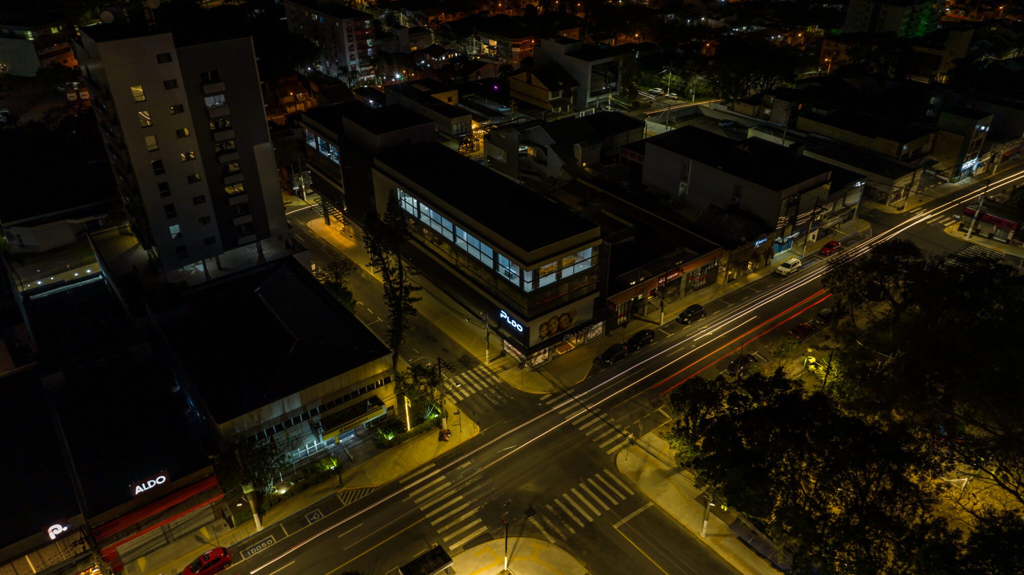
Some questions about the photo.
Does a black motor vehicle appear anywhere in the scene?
Yes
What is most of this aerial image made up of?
buildings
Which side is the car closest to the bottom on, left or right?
left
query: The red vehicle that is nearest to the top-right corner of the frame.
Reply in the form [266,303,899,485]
[821,238,845,255]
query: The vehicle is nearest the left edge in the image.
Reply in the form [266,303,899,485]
[178,542,231,575]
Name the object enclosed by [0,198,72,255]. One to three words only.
house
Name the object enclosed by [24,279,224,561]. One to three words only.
building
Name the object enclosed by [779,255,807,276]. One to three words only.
car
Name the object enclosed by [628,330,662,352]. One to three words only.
car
